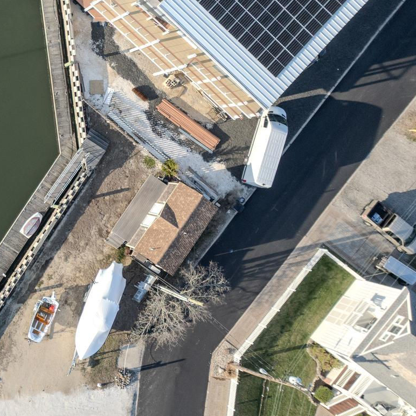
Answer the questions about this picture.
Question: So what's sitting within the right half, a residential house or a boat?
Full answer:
Visible within the right half is a residential house.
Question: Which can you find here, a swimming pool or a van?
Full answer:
Of the two, only a van appears.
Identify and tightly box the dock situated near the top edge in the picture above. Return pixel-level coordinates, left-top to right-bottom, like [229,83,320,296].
[40,0,77,153]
